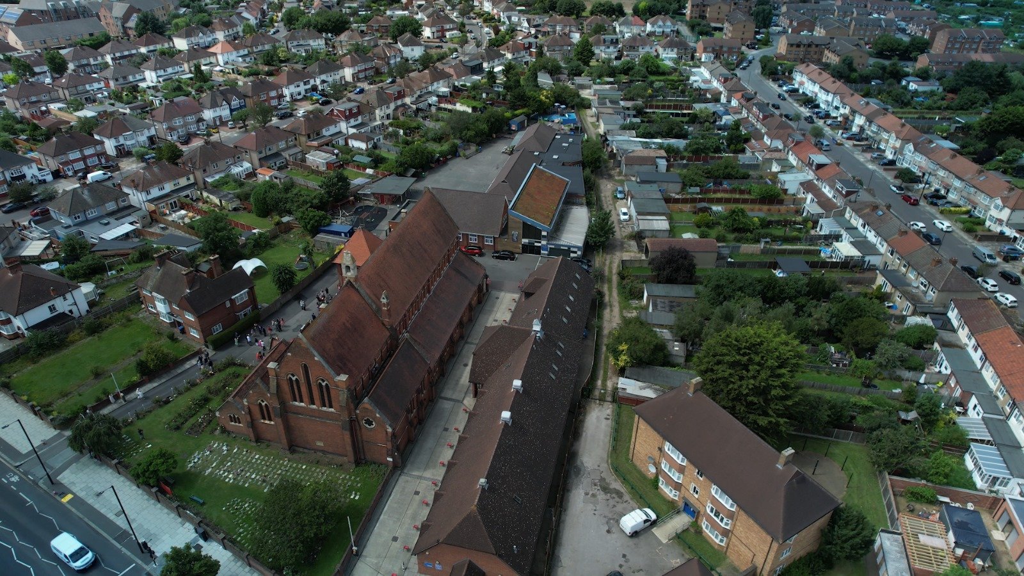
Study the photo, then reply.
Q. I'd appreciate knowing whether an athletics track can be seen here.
No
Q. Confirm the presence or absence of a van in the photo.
Yes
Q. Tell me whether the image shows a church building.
Yes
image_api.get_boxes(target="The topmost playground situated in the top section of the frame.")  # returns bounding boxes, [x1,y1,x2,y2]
[403,121,538,193]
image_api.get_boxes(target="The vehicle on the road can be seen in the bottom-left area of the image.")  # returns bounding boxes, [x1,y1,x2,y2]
[44,527,96,570]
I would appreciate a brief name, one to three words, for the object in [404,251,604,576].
building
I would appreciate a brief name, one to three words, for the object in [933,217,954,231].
car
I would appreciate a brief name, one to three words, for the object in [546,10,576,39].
house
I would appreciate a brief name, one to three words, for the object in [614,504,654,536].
van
